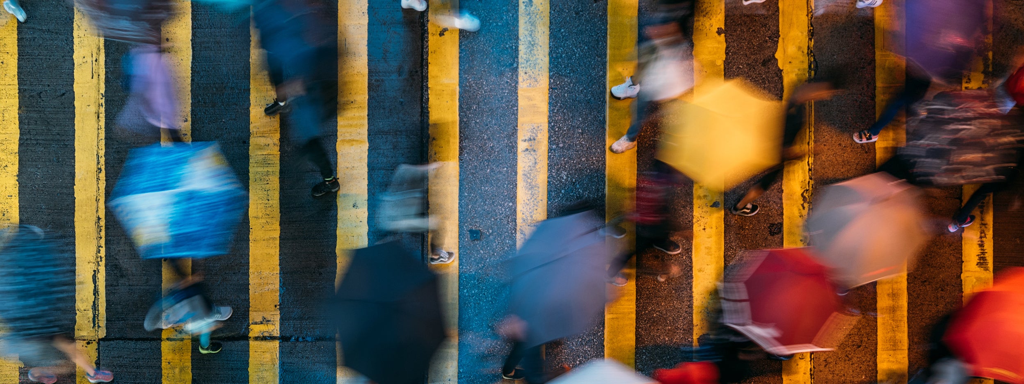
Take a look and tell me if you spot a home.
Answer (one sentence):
No, I find no home anywhere in the image.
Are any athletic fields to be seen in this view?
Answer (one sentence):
No, the photo shows no athletic field.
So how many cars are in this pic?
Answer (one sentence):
No cars are visible.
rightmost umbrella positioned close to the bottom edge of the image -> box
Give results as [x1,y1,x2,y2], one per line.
[936,263,1024,384]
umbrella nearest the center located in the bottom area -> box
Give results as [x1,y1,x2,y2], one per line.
[490,205,610,350]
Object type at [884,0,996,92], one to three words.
umbrella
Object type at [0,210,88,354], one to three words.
umbrella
